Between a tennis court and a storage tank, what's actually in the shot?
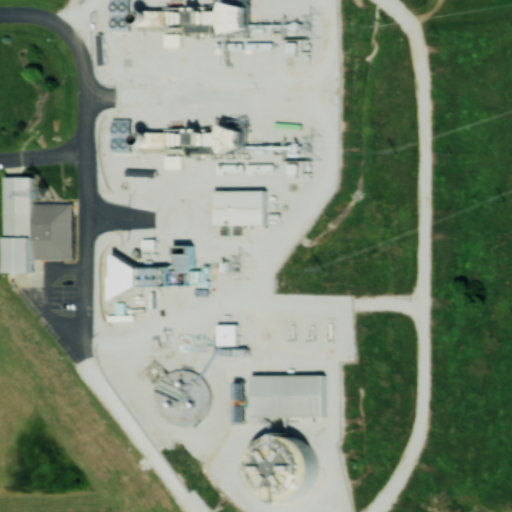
storage tank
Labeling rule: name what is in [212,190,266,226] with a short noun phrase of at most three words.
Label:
building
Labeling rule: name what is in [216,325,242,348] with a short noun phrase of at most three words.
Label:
building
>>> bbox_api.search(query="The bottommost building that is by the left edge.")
[0,238,32,273]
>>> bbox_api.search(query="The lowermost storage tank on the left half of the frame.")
[154,367,212,427]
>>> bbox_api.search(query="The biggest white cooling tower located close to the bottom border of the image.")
[240,428,317,502]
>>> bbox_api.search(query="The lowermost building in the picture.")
[248,375,325,418]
